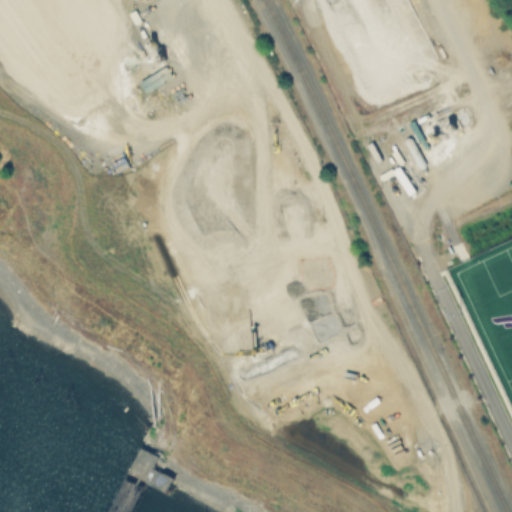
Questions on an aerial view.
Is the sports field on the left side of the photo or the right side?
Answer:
right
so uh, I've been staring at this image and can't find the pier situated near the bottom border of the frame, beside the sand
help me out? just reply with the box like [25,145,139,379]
[104,449,174,512]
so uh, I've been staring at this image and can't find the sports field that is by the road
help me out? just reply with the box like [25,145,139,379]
[449,240,512,404]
